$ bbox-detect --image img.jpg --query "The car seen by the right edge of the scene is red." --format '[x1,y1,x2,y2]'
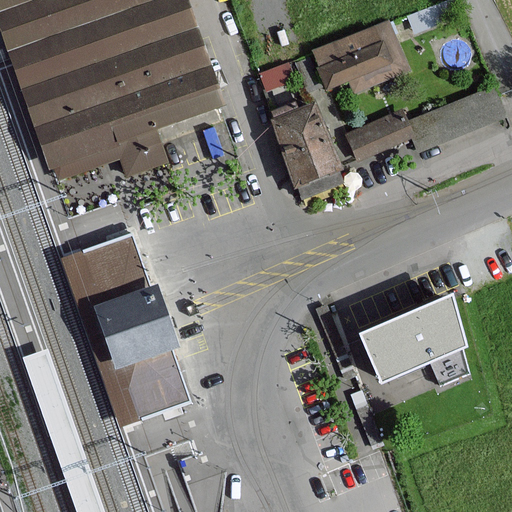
[487,258,501,278]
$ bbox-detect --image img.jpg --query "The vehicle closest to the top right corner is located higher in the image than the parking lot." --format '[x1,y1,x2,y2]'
[420,146,441,160]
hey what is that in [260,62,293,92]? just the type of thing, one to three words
shed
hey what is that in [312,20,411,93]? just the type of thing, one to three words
house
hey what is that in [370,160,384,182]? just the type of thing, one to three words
car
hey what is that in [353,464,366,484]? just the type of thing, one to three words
vehicle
